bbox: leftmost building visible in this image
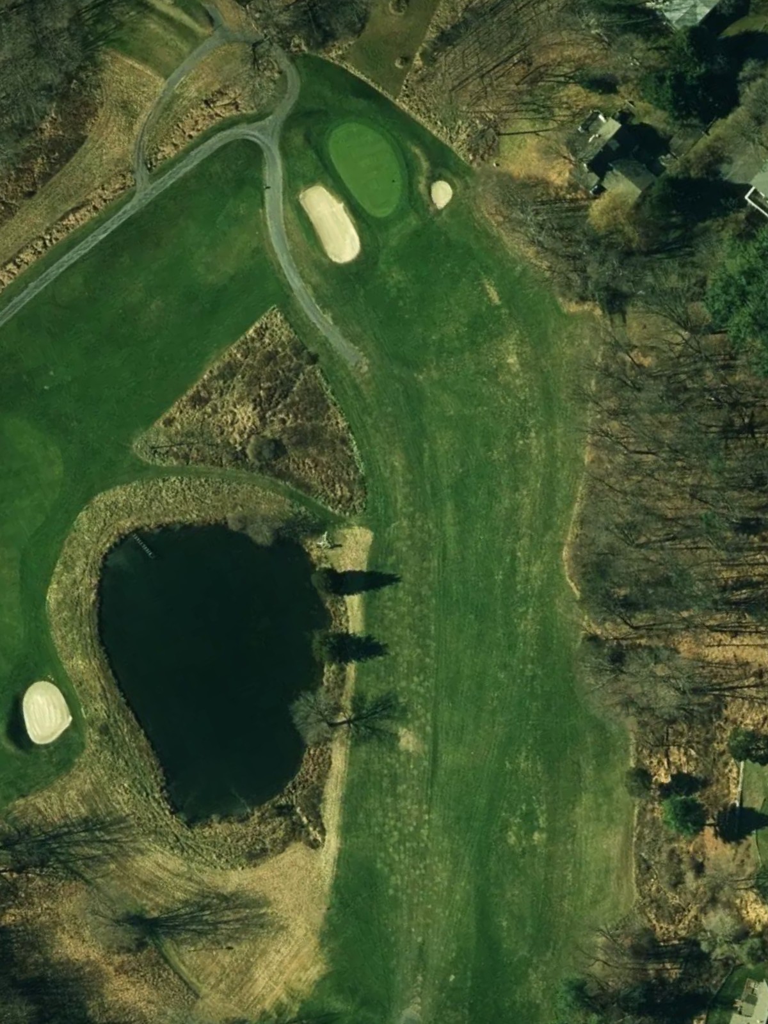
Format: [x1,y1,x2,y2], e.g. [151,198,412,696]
[577,110,658,209]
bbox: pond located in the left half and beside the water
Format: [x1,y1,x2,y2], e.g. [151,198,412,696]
[95,523,332,822]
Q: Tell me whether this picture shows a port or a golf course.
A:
golf course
